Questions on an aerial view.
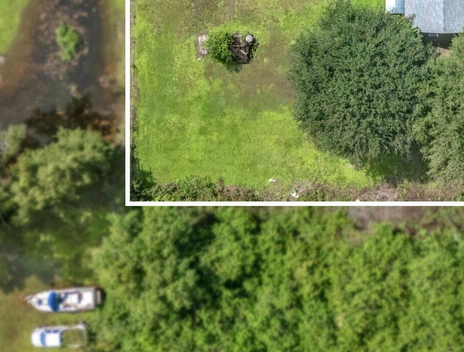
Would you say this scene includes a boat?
Yes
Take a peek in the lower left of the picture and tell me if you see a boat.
Yes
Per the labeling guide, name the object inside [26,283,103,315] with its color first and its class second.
white boat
